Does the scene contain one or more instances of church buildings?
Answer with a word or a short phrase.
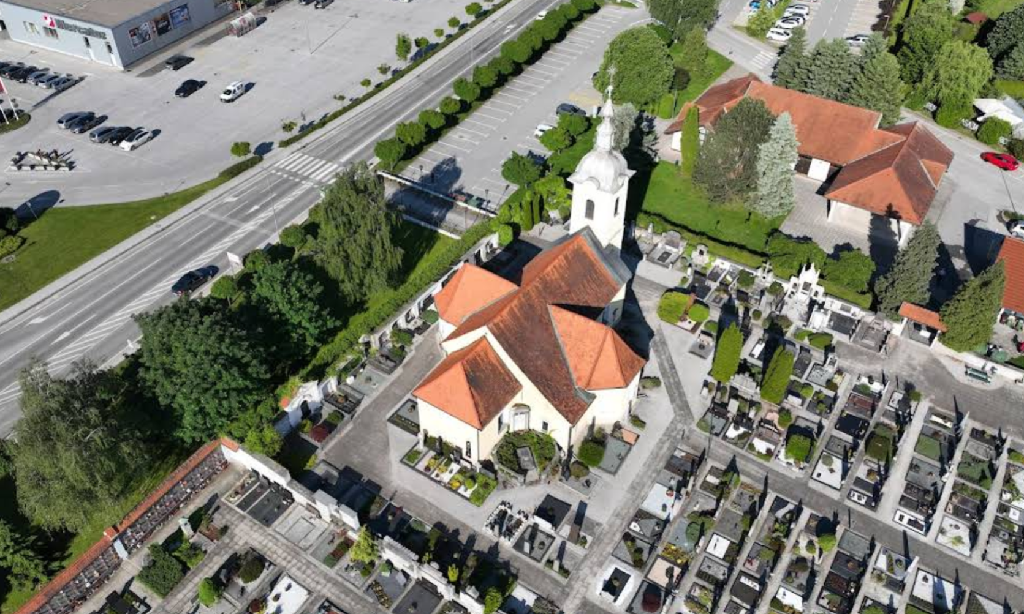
Yes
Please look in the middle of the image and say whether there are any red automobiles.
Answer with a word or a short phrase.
No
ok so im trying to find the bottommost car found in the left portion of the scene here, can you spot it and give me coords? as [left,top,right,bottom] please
[173,267,216,297]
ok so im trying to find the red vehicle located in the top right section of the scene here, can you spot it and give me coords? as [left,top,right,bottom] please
[979,152,1020,172]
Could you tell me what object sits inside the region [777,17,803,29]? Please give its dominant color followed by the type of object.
white vehicle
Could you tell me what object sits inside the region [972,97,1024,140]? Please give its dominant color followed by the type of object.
white tent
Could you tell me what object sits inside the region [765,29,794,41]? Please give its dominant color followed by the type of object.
white vehicle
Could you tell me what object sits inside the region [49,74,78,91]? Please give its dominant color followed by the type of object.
gray car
